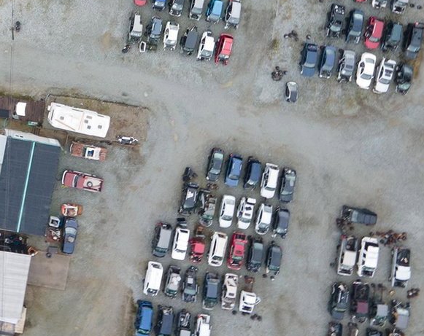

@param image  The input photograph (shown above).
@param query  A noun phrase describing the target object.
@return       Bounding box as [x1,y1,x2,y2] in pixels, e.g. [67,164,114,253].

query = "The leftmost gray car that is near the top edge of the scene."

[125,10,145,40]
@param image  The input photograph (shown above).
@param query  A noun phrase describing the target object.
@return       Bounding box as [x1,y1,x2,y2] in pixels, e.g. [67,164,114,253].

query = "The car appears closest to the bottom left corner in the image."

[62,215,80,254]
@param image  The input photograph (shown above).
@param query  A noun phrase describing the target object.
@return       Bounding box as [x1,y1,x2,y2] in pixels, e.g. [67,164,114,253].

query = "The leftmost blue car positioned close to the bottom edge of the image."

[133,297,154,336]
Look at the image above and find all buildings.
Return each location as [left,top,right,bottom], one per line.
[0,129,60,236]
[0,244,31,325]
